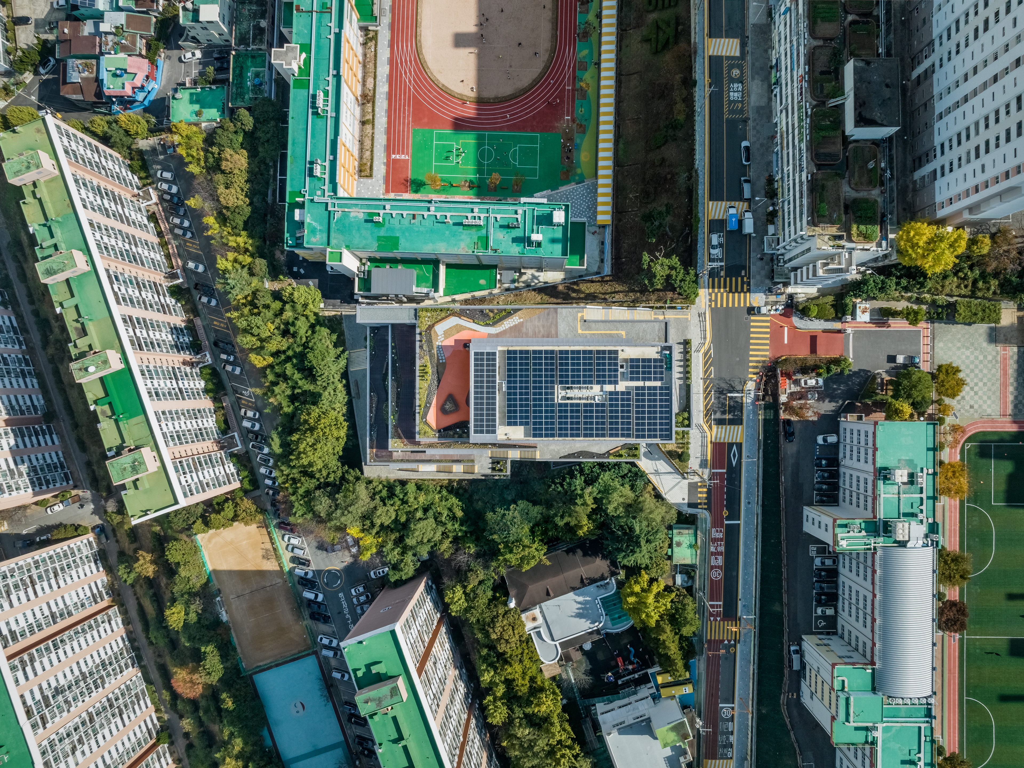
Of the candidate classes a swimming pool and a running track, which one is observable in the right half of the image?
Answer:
running track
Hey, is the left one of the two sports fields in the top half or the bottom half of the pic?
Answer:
top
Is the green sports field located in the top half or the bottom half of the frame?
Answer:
bottom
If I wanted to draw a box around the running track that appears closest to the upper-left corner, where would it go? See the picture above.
[386,0,578,193]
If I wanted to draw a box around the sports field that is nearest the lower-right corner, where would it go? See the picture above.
[959,431,1024,768]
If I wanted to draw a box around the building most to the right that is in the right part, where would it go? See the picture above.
[911,0,1024,229]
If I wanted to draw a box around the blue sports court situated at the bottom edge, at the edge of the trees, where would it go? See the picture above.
[248,650,356,768]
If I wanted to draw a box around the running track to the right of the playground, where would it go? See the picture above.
[948,420,1024,764]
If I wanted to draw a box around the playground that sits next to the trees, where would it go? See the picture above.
[571,629,664,695]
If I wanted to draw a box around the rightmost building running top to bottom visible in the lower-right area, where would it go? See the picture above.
[801,418,941,768]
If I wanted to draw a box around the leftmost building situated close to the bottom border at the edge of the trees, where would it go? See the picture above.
[0,537,169,768]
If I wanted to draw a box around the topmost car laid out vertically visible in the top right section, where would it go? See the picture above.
[740,141,752,165]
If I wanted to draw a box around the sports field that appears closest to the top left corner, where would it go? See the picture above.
[417,0,557,104]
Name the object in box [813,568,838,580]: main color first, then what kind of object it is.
black vehicle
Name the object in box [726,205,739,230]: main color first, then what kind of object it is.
blue vehicle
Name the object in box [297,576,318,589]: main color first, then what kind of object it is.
black vehicle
